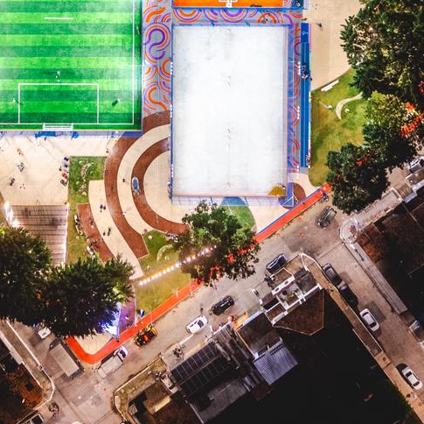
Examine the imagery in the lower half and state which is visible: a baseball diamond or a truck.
truck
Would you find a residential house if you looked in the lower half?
Yes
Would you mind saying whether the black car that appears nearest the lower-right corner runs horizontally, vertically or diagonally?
diagonally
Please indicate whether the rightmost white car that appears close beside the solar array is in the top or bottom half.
bottom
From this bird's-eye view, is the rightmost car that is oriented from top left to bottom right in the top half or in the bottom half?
bottom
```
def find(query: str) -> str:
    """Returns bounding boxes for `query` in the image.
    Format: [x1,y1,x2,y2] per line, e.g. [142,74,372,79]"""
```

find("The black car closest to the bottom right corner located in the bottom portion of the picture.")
[339,283,361,309]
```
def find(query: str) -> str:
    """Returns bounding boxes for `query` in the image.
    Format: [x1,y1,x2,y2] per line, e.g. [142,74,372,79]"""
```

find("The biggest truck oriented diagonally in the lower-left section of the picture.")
[47,338,82,385]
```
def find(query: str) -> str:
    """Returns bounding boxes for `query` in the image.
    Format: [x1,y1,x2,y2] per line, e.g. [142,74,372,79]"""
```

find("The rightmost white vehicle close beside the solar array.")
[186,315,209,337]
